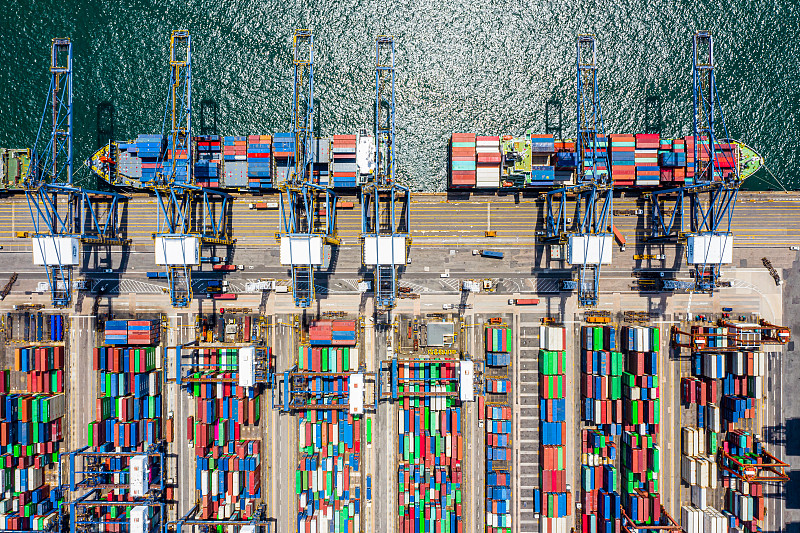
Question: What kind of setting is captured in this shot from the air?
port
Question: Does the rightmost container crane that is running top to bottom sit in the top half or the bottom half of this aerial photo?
top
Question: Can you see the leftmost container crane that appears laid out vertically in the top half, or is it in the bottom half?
top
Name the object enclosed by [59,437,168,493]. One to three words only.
container crane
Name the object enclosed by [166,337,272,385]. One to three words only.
container crane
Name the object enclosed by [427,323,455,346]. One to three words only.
building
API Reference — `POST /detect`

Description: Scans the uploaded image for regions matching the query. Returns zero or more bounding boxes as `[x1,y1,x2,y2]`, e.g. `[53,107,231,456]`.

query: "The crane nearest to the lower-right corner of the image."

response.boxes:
[720,449,791,483]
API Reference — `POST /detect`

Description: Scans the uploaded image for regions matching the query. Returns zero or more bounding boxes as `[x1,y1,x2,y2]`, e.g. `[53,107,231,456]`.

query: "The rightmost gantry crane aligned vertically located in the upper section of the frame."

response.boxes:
[634,32,737,295]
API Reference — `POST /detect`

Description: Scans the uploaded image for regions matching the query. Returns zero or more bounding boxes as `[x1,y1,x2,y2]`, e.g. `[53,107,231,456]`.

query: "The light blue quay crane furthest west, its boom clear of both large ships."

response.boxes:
[24,39,135,309]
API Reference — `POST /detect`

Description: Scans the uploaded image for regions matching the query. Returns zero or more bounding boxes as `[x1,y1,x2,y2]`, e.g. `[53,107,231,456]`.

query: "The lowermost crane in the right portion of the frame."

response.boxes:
[620,507,685,533]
